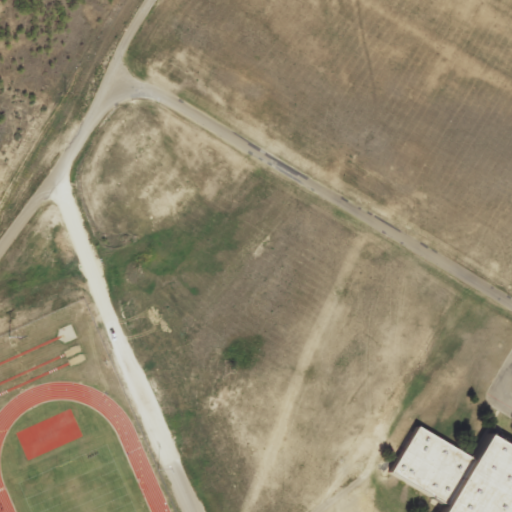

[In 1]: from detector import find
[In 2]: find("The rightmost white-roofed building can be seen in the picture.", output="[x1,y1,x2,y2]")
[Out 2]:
[442,434,512,512]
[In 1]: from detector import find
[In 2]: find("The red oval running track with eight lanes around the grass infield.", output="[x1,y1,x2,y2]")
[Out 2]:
[0,382,172,512]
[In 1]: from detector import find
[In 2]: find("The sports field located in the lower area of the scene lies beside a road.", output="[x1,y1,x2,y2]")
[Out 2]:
[1,401,151,512]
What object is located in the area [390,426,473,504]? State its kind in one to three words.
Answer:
building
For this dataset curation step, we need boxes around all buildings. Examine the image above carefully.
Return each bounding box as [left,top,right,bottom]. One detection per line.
[390,426,473,504]
[442,434,512,512]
